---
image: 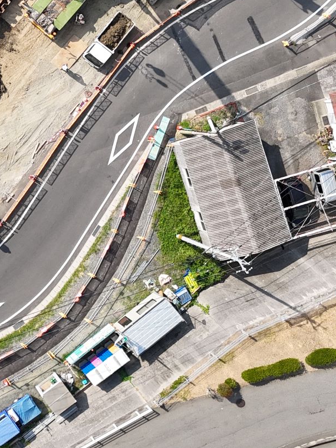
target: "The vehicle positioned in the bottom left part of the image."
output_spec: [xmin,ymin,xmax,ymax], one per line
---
[0,389,49,448]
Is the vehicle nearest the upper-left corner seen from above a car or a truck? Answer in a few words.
truck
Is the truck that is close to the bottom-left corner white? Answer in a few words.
No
